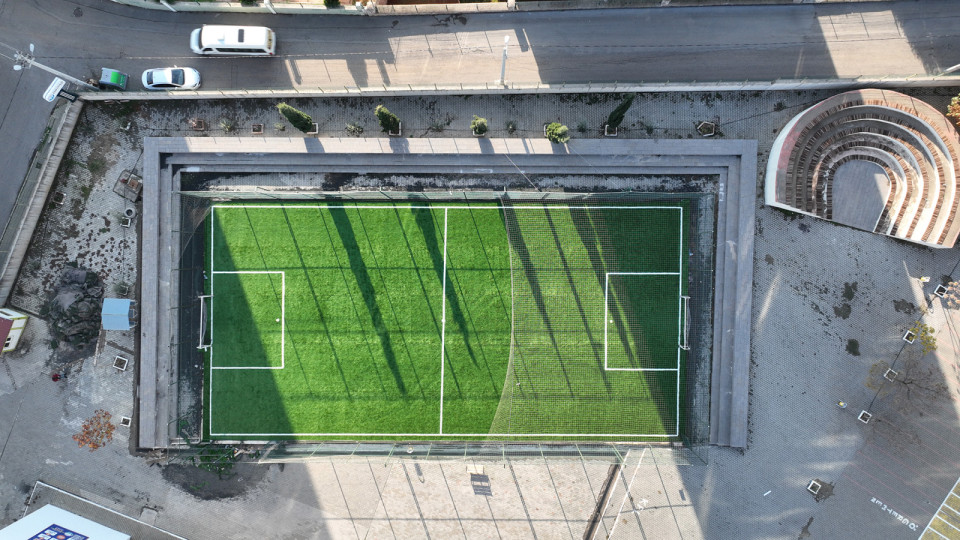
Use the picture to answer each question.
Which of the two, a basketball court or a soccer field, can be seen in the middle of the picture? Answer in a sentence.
The one visible in the middle of the picture is a soccer field.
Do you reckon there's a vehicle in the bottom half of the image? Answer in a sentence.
No, no vehicle can be made out in the bottom half of the image.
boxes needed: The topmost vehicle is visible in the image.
[190,25,277,60]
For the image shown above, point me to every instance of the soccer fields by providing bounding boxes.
[203,199,687,445]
